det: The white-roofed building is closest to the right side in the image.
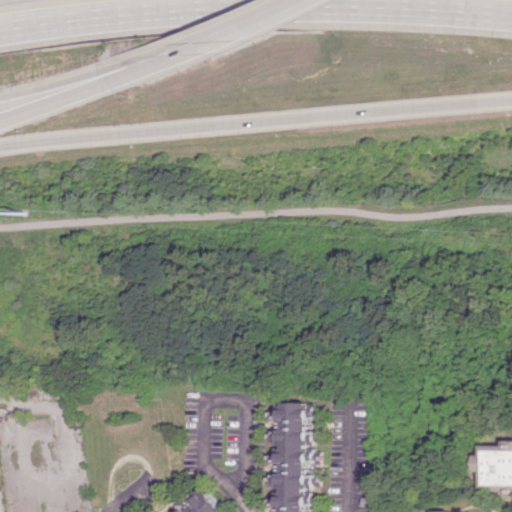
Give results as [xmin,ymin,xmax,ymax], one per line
[468,440,512,496]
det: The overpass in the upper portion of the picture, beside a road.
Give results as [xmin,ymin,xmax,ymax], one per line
[0,0,330,135]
